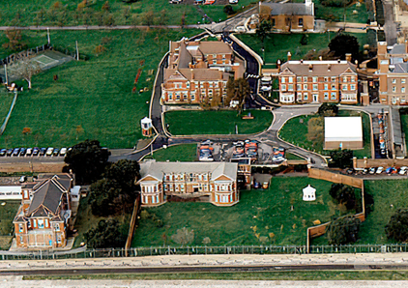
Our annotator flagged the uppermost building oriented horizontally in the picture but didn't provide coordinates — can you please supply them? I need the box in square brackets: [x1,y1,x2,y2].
[249,0,330,31]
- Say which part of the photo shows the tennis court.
top left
